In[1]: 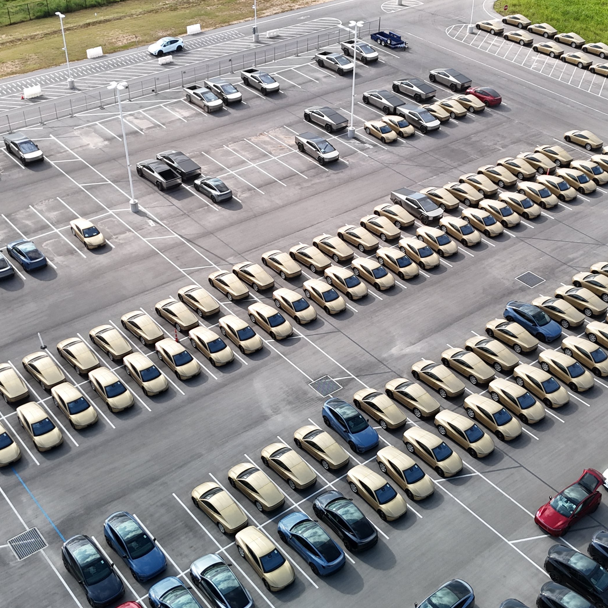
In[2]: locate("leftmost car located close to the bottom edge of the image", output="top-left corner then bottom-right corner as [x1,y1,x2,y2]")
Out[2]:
[59,533,124,608]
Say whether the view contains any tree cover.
No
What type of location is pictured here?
parking lot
